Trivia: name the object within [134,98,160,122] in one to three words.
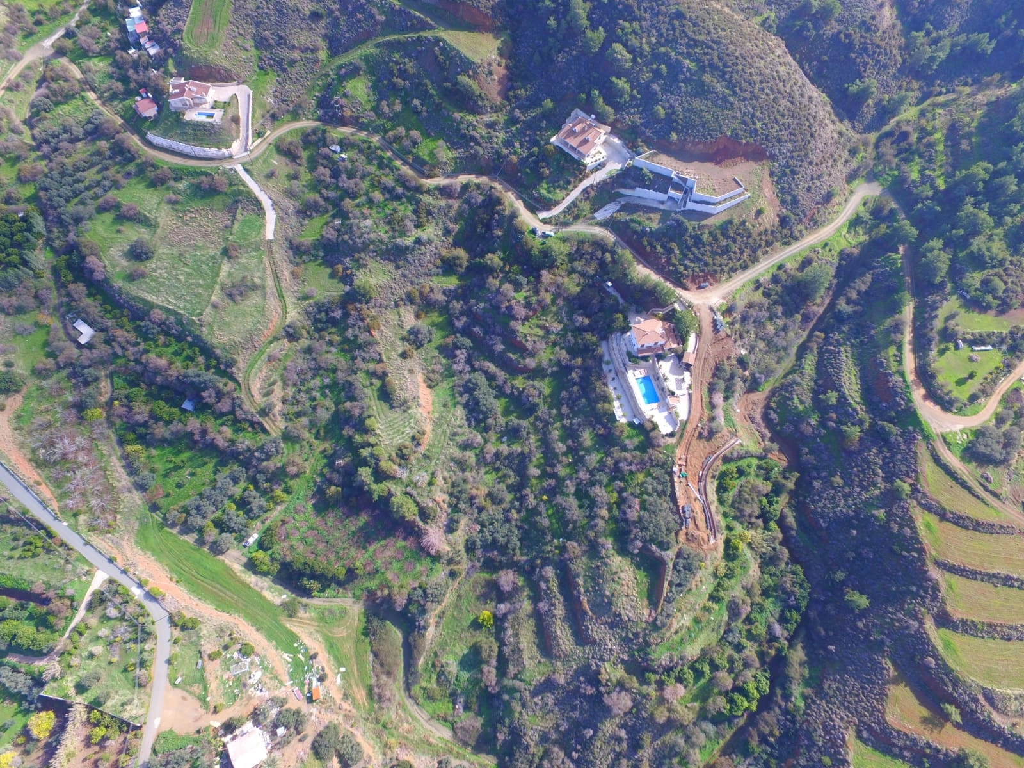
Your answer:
house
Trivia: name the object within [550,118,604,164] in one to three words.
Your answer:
house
